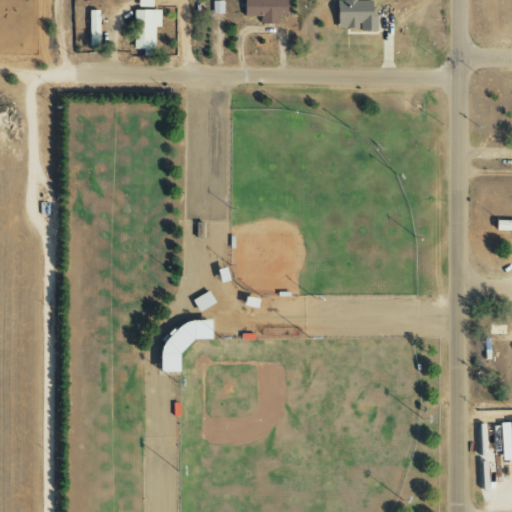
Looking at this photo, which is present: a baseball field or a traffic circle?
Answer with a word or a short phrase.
baseball field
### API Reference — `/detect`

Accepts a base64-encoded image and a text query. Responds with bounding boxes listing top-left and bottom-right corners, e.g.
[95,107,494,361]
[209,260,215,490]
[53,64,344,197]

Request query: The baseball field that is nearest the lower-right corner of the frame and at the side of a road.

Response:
[181,339,440,512]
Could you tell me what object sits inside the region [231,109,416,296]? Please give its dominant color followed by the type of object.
green baseball field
